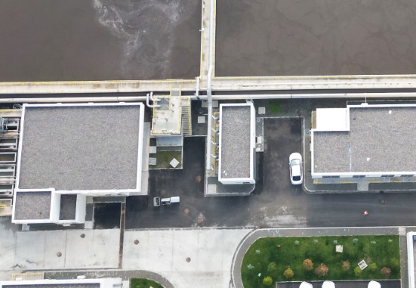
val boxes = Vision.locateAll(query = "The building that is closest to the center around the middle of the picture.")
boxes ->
[210,96,263,184]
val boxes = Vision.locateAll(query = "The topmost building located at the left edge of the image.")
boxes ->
[11,102,151,230]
